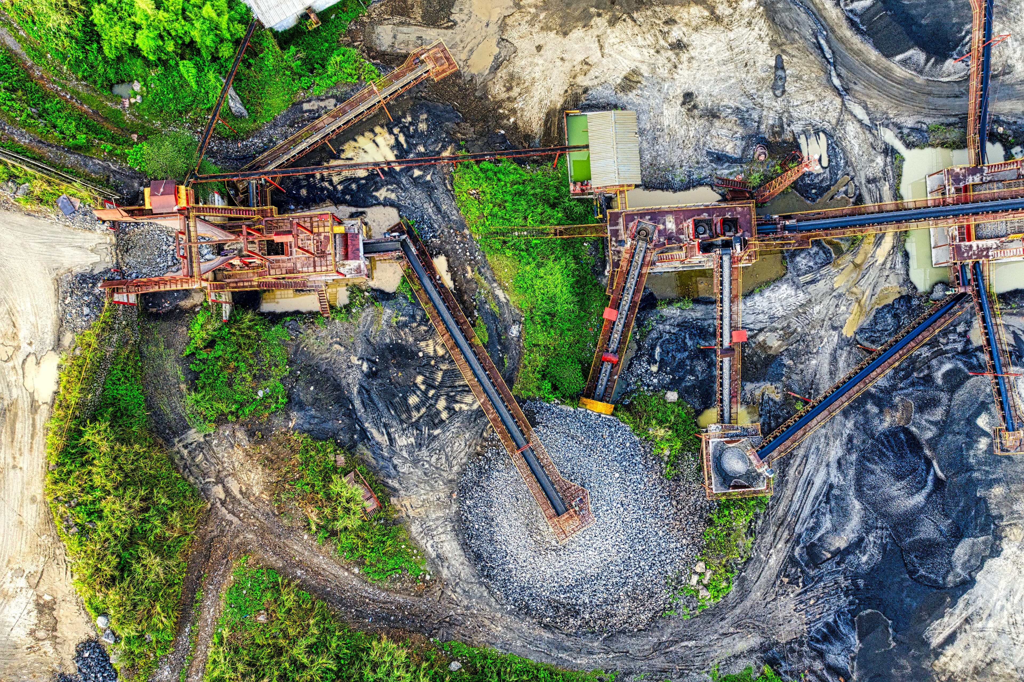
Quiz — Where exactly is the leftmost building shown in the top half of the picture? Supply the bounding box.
[144,180,213,217]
